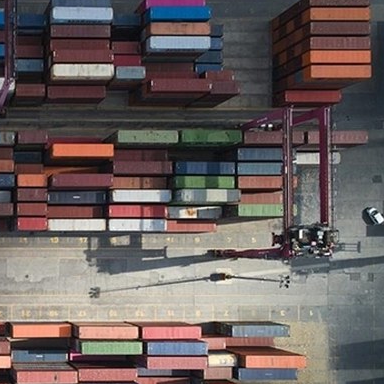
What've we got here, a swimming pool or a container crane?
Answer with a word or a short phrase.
container crane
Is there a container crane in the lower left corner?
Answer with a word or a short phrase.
No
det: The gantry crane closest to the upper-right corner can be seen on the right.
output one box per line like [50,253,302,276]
[205,104,337,259]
